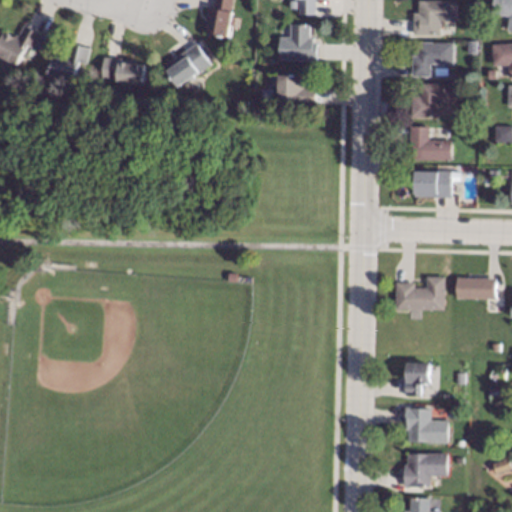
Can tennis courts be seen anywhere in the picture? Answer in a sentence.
No, the picture doesn't show any tennis court.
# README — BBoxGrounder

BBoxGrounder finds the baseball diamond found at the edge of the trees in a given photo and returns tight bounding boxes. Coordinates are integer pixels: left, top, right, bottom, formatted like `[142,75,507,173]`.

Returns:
[0,256,253,505]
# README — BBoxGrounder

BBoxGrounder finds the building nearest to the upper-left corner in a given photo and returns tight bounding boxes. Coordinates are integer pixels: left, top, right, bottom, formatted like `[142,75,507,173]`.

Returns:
[0,26,36,66]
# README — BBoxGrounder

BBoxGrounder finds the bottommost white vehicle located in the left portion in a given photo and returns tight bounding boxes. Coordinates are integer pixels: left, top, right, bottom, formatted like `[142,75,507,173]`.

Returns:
[175,22,189,38]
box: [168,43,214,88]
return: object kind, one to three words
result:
house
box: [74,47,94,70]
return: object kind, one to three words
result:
building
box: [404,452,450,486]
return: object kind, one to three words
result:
house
